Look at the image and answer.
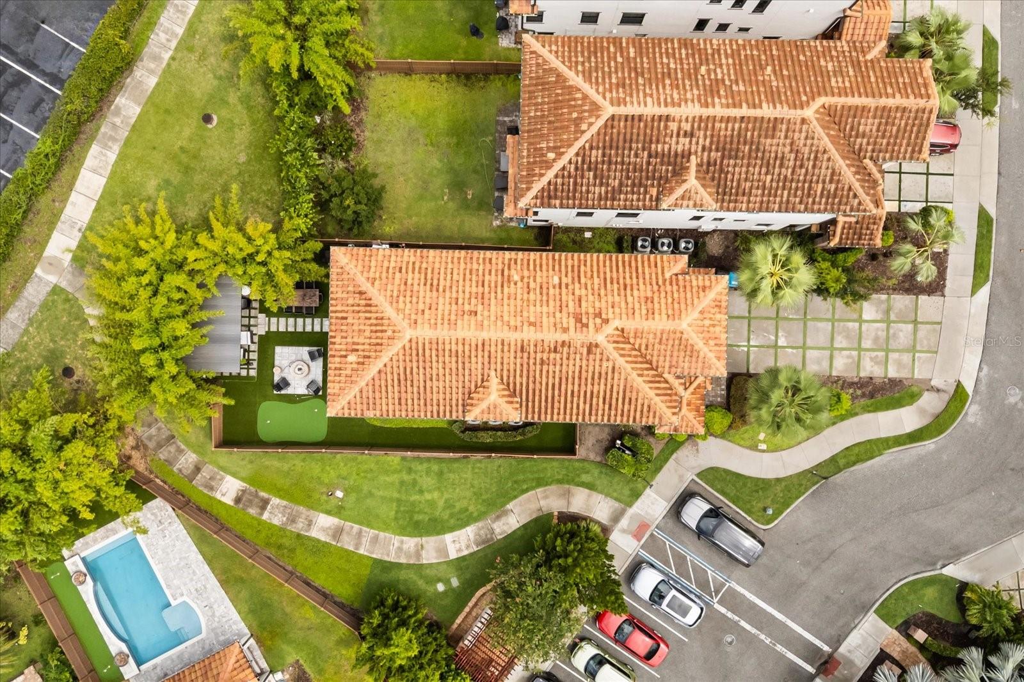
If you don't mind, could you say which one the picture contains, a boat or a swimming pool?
swimming pool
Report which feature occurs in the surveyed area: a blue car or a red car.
red car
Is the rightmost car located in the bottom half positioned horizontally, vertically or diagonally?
diagonally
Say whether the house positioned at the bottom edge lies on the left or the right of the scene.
left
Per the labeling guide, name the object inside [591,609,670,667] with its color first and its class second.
red car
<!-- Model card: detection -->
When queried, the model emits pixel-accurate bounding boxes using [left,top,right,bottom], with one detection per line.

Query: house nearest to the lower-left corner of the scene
[164,641,261,682]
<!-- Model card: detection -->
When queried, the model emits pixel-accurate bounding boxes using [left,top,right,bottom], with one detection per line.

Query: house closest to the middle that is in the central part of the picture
[320,244,729,437]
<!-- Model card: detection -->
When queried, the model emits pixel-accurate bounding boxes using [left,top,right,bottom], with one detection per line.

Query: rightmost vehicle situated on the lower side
[674,487,766,568]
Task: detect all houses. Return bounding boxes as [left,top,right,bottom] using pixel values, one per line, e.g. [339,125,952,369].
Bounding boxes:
[320,244,729,437]
[164,641,261,682]
[503,31,945,250]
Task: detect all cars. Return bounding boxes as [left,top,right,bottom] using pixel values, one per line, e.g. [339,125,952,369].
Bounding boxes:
[674,487,766,568]
[624,556,706,630]
[565,629,643,682]
[931,121,962,159]
[535,660,584,682]
[591,609,670,667]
